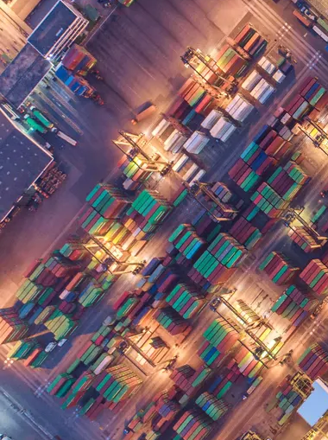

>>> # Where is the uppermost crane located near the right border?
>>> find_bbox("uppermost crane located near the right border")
[296,119,328,157]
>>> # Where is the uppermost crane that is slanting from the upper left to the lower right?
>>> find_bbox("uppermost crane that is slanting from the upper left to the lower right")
[187,51,244,97]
